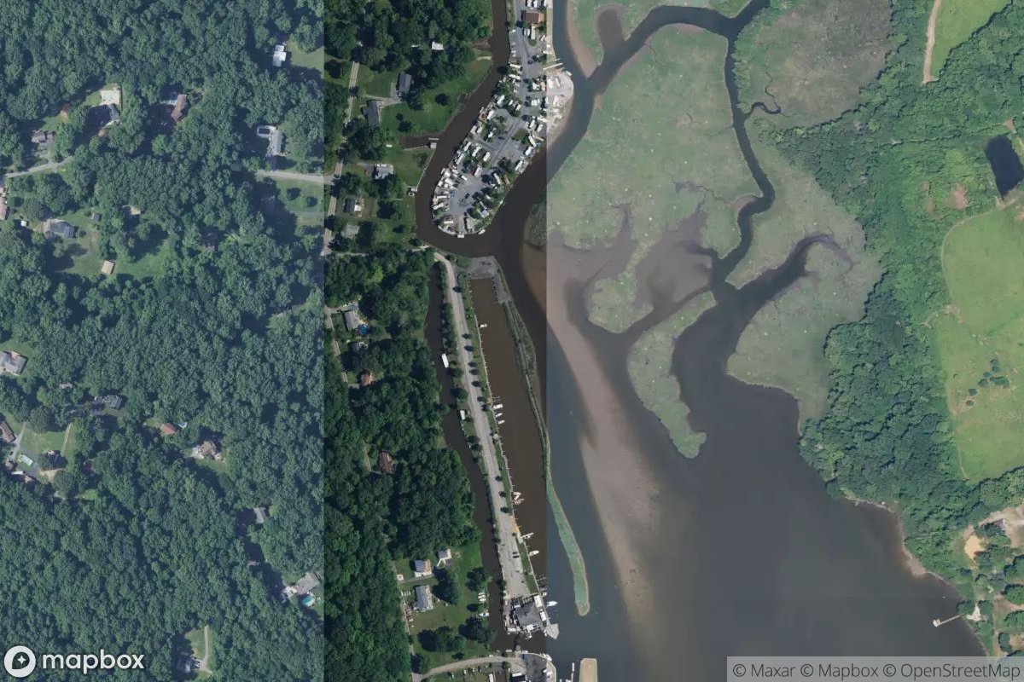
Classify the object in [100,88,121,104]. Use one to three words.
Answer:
swimming pool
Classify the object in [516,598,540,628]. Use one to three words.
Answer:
building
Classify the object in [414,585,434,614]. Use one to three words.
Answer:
house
